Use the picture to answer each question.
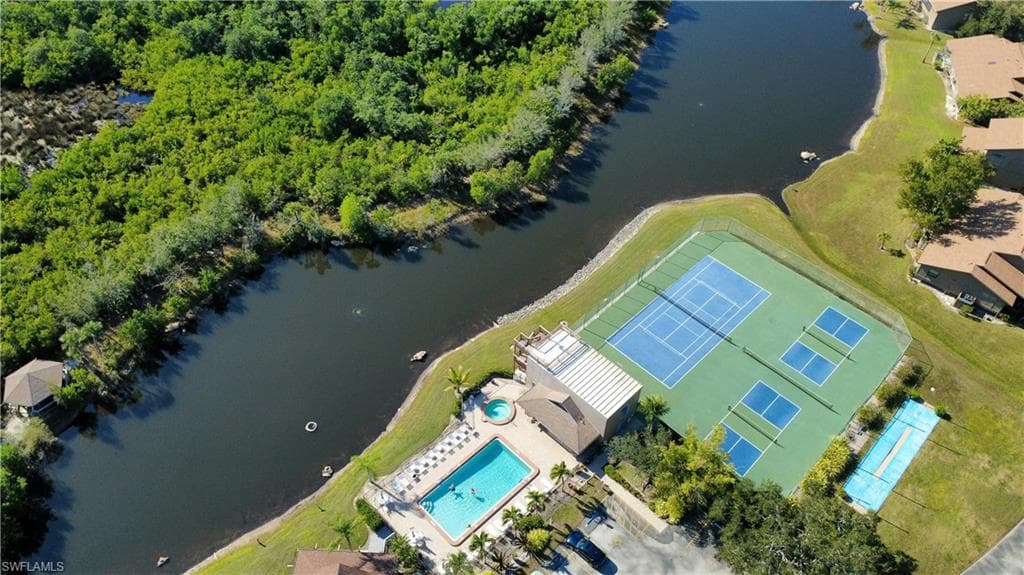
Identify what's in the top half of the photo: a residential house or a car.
residential house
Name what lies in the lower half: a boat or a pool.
pool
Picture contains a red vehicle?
No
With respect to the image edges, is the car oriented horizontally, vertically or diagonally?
diagonally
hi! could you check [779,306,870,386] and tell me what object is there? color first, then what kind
blue sports court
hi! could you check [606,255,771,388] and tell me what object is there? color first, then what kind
blue tennis court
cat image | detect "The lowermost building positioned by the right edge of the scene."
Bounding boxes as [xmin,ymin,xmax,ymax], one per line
[921,189,1024,314]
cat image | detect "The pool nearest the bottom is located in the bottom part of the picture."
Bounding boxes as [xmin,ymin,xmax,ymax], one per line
[419,436,536,543]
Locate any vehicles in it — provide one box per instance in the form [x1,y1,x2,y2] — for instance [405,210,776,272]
[561,536,607,574]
